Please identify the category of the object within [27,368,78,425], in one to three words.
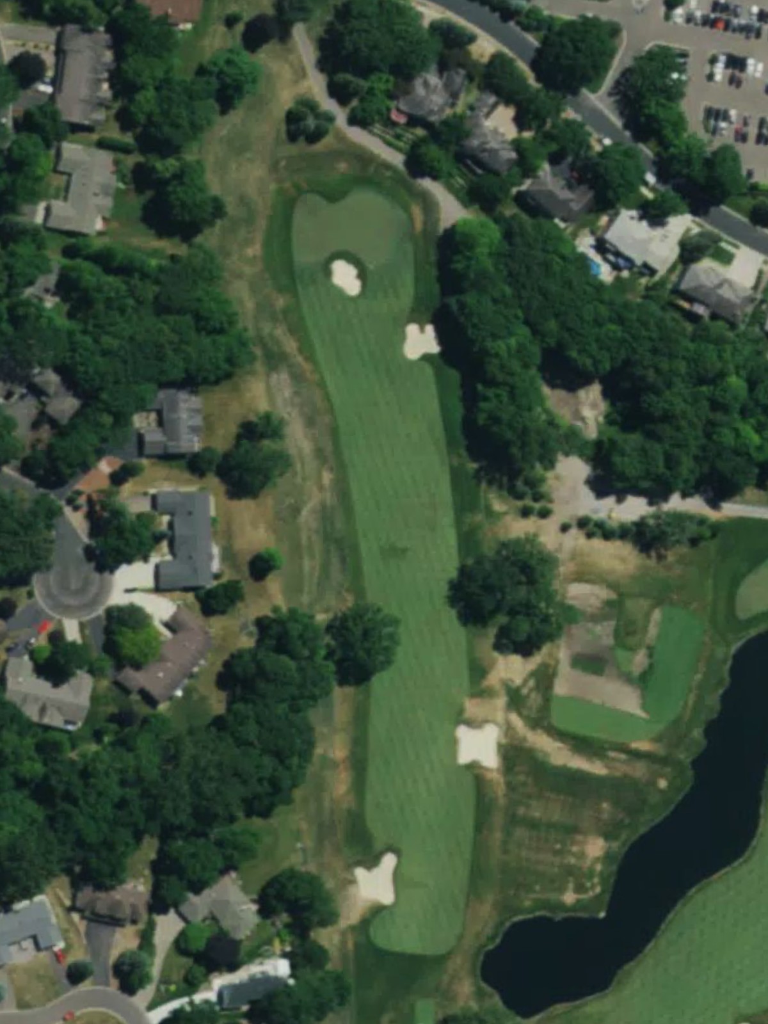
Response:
house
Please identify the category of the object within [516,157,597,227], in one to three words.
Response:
house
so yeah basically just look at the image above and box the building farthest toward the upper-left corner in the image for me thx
[58,23,113,125]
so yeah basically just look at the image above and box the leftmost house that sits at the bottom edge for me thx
[0,894,69,973]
